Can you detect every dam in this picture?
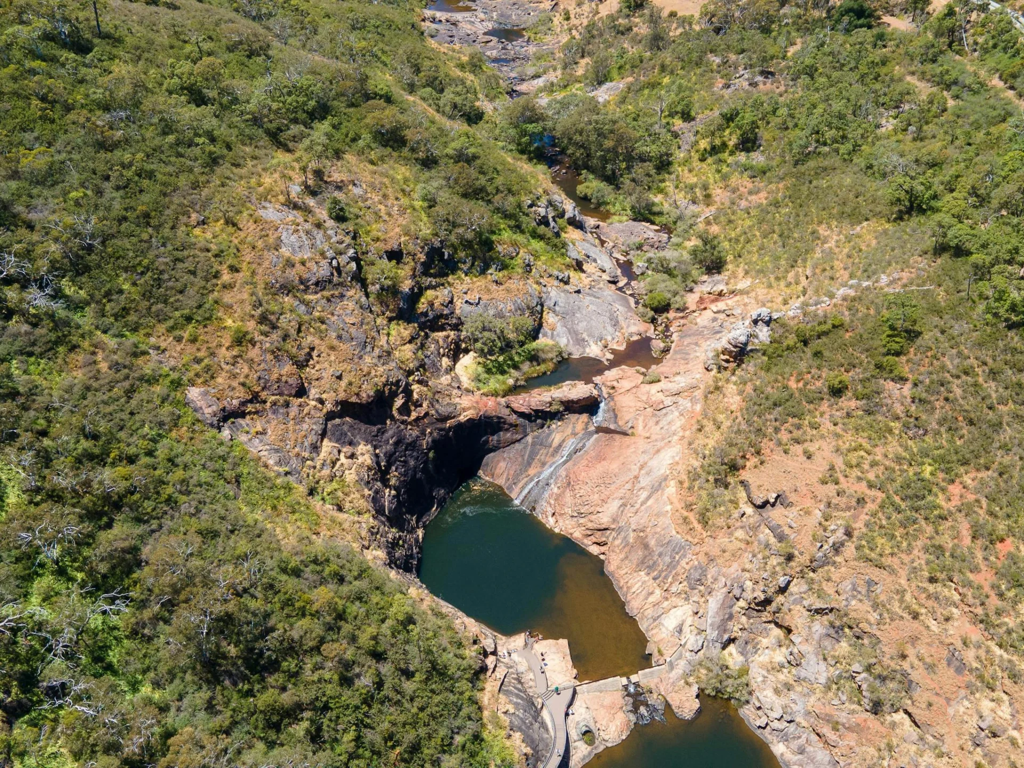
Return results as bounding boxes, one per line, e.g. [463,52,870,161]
[574,637,691,694]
